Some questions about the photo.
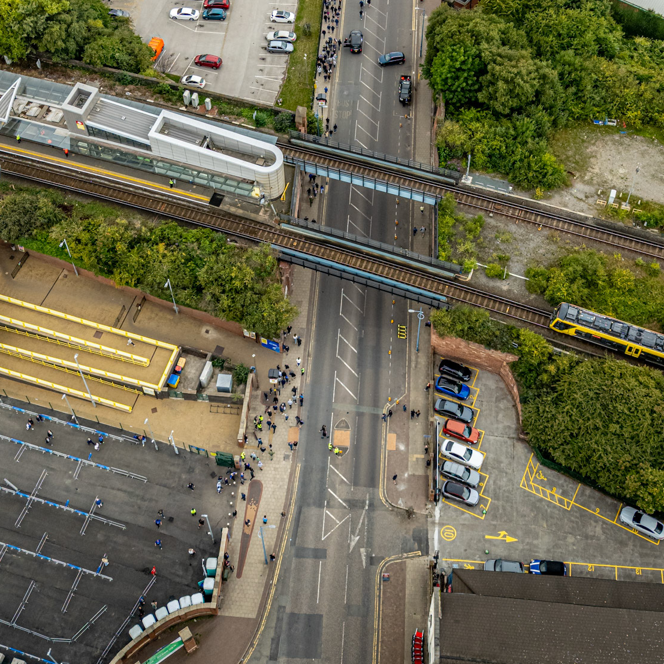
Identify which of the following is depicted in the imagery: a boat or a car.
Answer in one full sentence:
I can see a car in this picture.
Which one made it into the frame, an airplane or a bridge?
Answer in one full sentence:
The image shows a bridge.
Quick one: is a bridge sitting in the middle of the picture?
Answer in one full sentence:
Yes, you'll find a bridge in the middle of the picture.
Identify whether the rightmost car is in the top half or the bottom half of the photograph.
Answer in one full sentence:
It is in the bottom half that the rightmost car appears.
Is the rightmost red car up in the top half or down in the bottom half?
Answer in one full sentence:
It is in the bottom half that the rightmost red car appears.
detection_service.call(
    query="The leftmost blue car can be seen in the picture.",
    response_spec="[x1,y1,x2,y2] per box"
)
[203,8,227,23]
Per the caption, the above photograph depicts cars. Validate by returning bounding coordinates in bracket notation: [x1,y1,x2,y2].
[204,0,229,11]
[195,55,222,71]
[270,10,296,24]
[340,32,366,56]
[439,479,481,509]
[435,398,476,427]
[267,41,294,55]
[484,556,524,574]
[180,74,207,91]
[170,8,199,22]
[621,511,664,541]
[266,30,296,44]
[439,459,482,490]
[527,556,568,577]
[376,50,408,68]
[436,358,472,384]
[442,421,478,447]
[440,441,484,471]
[435,375,471,403]
[203,8,227,23]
